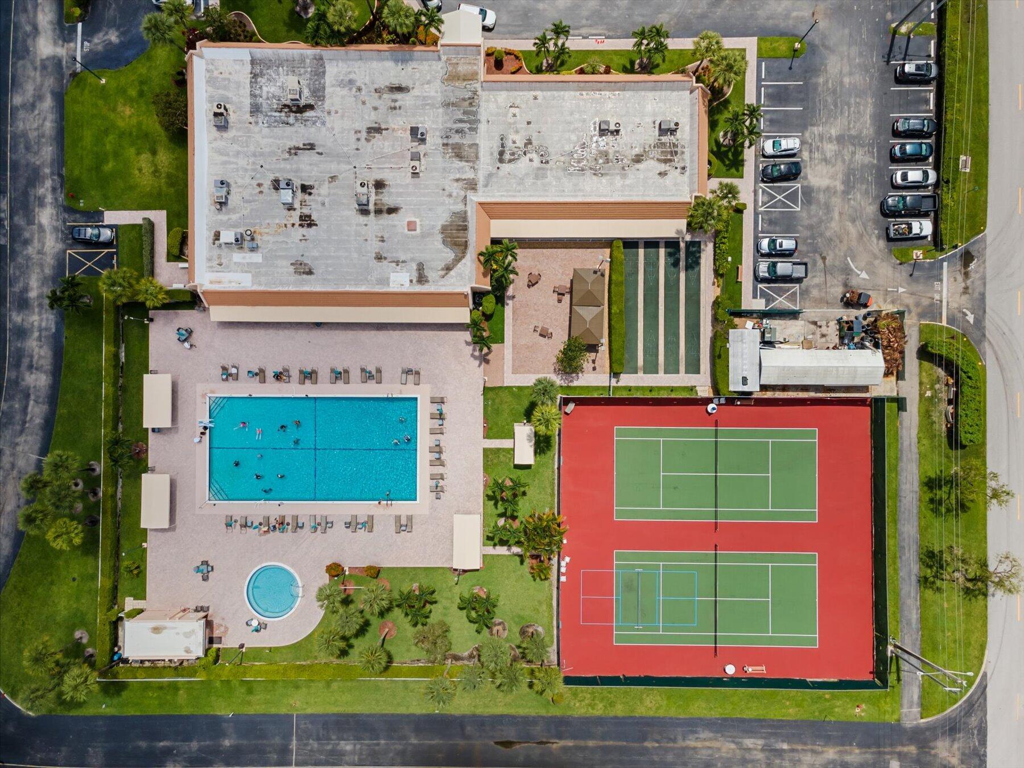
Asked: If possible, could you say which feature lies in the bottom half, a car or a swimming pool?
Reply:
swimming pool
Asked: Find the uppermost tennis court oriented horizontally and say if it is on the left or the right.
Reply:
right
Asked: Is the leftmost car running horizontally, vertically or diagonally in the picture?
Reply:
horizontally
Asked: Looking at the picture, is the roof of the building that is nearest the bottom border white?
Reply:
Yes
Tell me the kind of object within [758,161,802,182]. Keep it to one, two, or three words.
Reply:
car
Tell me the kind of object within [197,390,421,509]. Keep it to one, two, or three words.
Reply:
swimming pool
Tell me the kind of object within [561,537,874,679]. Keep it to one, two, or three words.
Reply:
tennis court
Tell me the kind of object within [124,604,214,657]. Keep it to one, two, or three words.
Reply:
building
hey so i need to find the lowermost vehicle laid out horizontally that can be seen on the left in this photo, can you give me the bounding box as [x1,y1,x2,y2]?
[72,224,116,245]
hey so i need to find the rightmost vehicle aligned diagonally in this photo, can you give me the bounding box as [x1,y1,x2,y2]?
[457,5,498,32]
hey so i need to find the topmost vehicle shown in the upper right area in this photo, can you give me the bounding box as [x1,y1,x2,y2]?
[894,61,937,84]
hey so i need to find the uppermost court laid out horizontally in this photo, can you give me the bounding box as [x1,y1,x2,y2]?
[561,398,874,537]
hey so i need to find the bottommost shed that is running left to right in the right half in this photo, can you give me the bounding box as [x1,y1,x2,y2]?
[760,350,885,385]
